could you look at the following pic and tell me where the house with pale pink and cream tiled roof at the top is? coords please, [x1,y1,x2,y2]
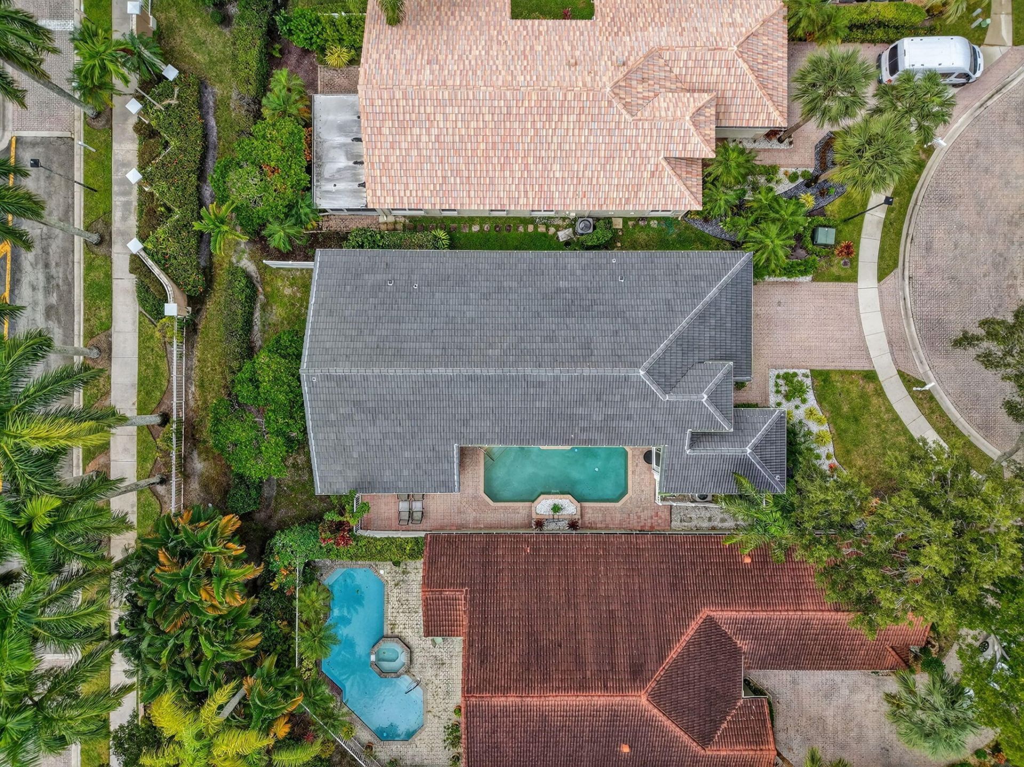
[358,0,790,225]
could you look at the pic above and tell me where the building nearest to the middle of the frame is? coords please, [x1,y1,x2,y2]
[299,248,789,497]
